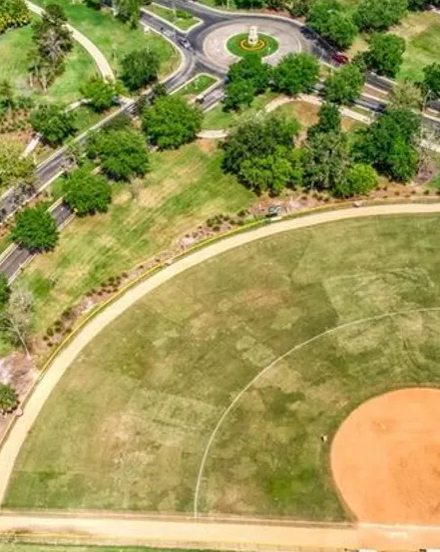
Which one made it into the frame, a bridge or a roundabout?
roundabout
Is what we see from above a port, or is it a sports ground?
sports ground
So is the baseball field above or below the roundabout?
below it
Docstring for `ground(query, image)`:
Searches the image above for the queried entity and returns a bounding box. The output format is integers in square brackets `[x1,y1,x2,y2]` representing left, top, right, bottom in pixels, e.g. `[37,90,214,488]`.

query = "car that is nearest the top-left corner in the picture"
[160,23,176,36]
